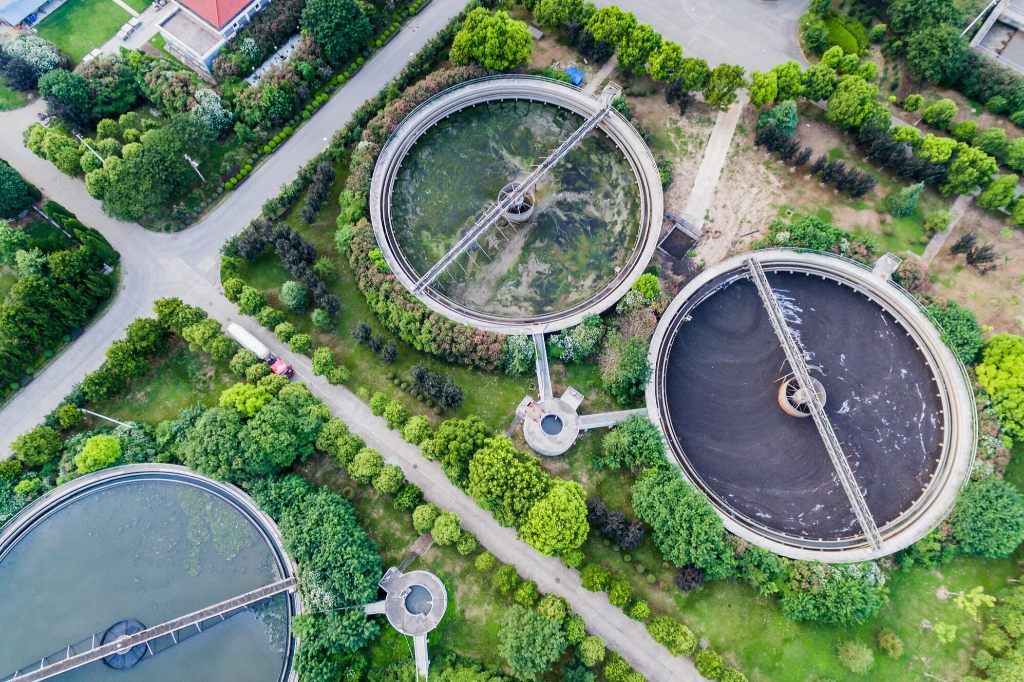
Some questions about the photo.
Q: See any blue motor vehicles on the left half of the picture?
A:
No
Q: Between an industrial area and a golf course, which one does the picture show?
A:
industrial area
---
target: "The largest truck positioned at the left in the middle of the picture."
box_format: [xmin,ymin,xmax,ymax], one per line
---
[224,320,297,381]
